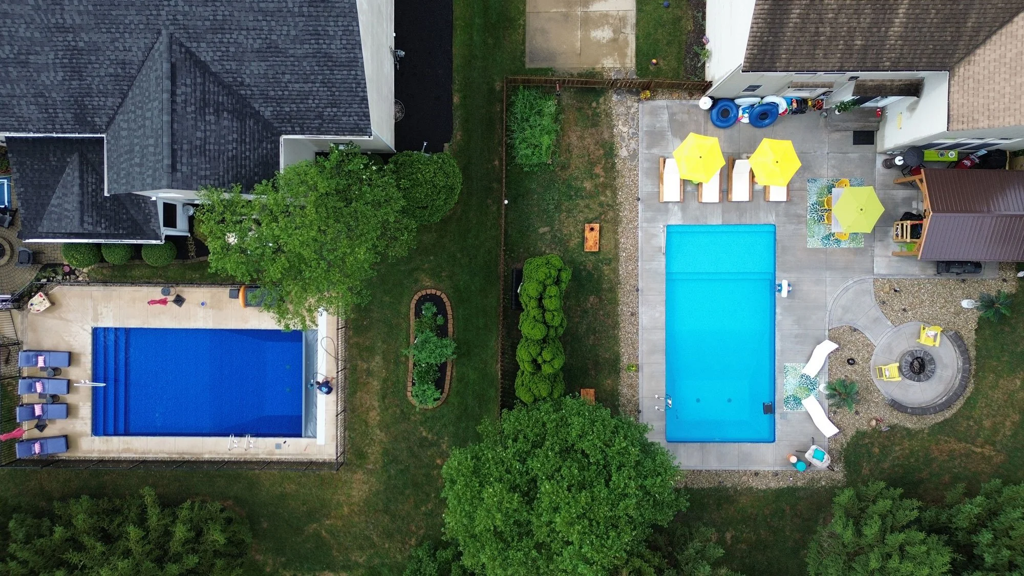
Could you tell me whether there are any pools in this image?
Yes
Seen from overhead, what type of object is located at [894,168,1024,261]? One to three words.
building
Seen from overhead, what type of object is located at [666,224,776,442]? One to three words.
swimming pool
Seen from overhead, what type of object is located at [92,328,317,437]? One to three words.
swimming pool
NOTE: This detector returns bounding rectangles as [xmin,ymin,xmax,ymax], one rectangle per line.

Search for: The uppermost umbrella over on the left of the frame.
[148,294,185,307]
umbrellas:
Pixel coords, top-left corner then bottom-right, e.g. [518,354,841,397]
[148,294,185,307]
[747,139,800,186]
[0,423,49,440]
[671,134,724,185]
[826,187,883,233]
